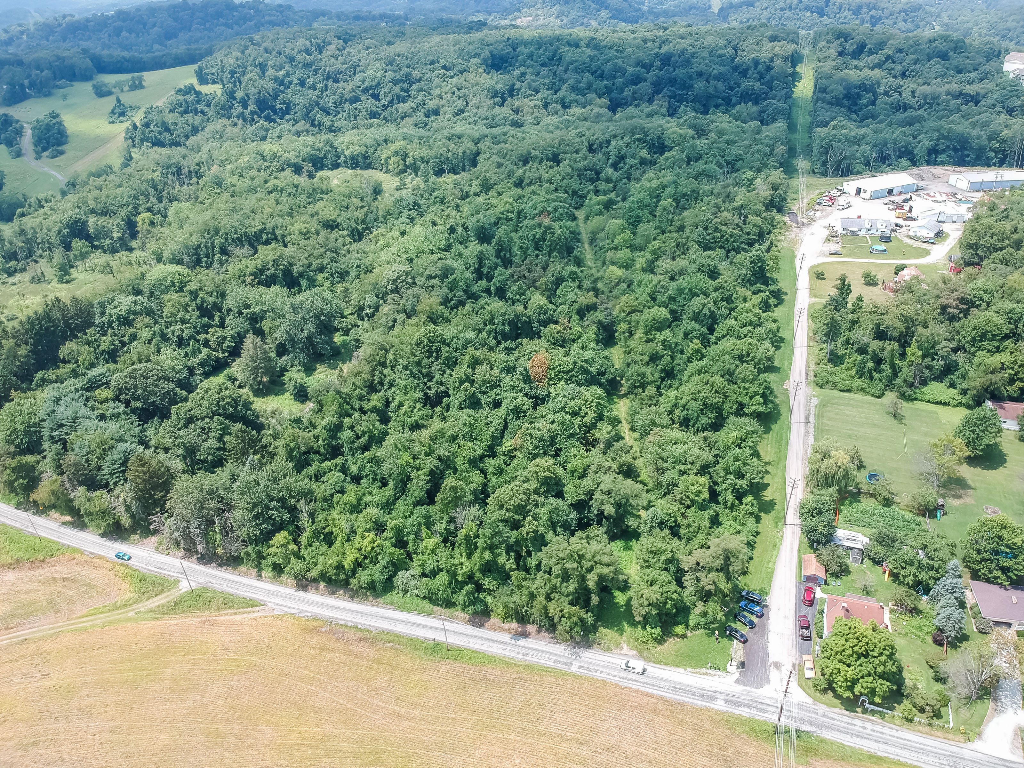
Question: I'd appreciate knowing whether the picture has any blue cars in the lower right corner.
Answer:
Yes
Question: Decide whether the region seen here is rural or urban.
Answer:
rural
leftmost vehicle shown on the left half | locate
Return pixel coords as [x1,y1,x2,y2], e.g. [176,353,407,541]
[111,549,134,562]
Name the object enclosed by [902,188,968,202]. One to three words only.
shed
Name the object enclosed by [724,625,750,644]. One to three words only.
car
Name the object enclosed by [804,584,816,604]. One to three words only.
vehicle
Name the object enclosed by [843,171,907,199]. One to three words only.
building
